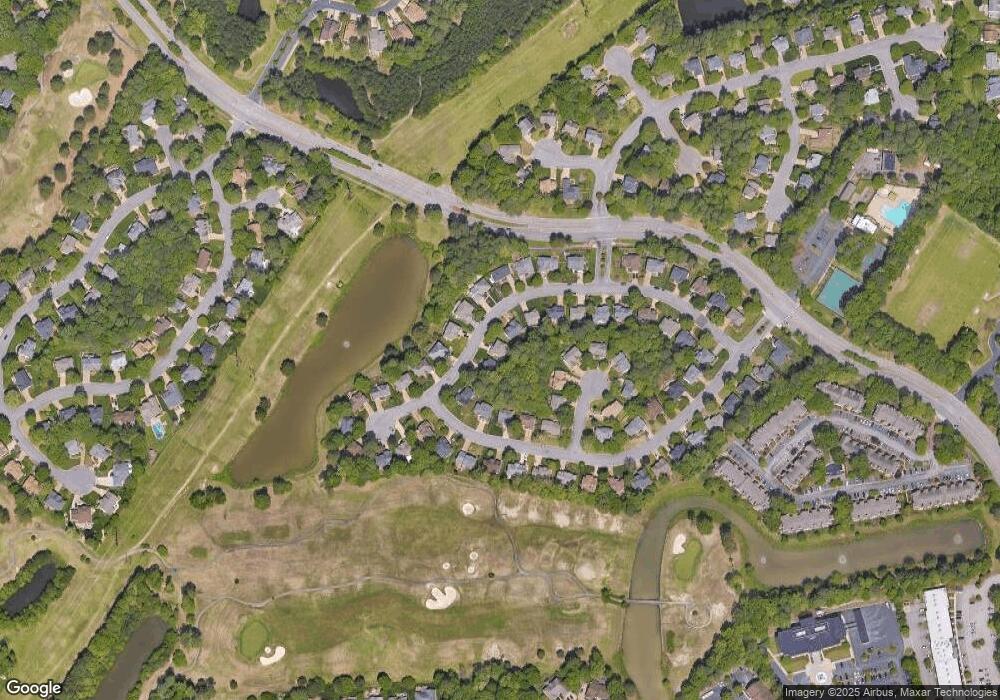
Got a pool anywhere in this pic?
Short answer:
Yes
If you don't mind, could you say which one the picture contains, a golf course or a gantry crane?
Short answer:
golf course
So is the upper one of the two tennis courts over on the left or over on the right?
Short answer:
right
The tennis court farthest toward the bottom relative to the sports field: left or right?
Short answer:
on the left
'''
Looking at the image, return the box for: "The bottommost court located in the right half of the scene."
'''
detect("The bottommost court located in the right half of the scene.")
[816,268,866,314]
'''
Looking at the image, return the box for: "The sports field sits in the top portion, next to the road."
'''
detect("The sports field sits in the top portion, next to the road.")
[882,206,1000,347]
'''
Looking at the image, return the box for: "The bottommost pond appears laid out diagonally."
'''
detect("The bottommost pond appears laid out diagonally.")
[96,617,167,700]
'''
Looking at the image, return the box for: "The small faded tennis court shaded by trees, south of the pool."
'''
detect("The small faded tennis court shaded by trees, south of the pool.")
[864,242,891,269]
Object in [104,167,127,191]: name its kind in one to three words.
house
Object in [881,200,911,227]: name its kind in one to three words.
swimming pool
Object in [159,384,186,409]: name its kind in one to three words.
house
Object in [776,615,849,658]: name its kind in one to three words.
building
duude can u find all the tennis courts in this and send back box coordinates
[864,242,891,269]
[816,268,866,314]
